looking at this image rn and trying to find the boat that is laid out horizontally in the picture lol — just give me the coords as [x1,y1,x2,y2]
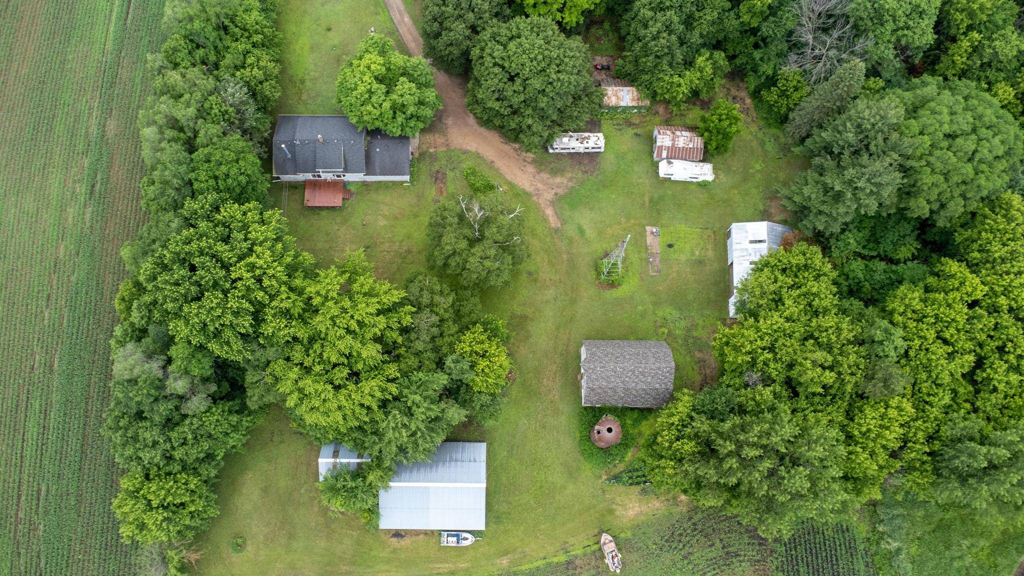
[441,531,474,546]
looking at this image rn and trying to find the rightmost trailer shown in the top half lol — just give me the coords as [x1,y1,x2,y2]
[656,162,713,186]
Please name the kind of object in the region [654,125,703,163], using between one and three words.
shed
